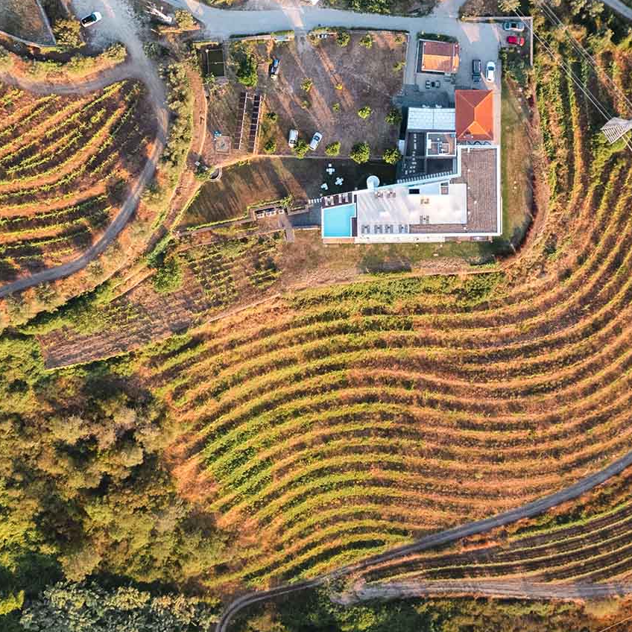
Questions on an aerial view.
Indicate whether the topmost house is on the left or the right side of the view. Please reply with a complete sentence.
You can find the topmost house on the right side of the picture.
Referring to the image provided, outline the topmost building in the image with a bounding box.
[422,41,460,74]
